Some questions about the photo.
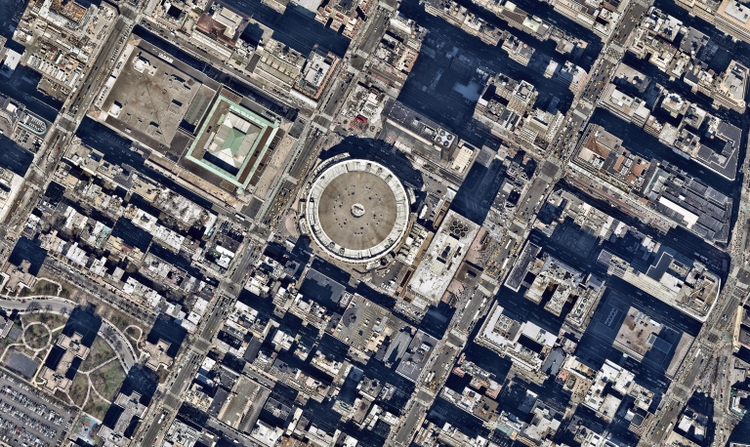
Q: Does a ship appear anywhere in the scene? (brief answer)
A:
No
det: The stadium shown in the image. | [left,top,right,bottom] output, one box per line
[299,157,410,262]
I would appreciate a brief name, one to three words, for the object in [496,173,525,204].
building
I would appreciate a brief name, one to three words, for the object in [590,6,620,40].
building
